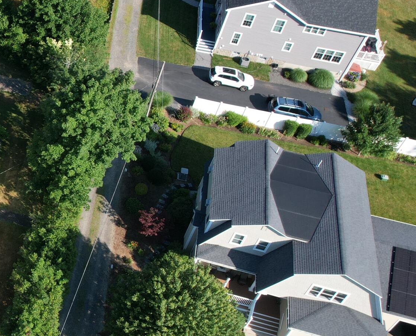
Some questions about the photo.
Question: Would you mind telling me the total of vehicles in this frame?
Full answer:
The number of vehicles here is 2.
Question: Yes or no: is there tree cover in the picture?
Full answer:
Yes, some tree cover is visible.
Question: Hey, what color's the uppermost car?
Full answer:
In this view, the uppermost car is white.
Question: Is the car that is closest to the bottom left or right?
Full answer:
It is on the right.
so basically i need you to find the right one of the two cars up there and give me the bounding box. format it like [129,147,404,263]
[269,91,326,121]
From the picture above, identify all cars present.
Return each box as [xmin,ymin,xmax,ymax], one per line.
[213,61,261,89]
[269,91,326,121]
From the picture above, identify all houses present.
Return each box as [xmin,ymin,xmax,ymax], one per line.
[176,139,416,336]
[189,0,390,78]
